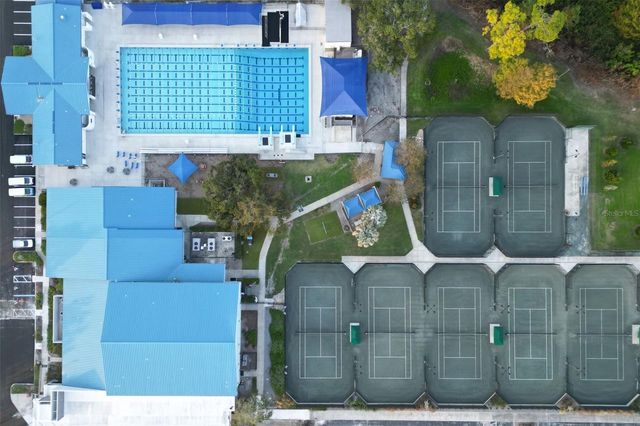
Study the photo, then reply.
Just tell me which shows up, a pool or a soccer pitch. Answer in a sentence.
I can see a pool in this picture.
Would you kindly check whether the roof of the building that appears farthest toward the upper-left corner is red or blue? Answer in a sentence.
From above, the roof of the building that appears farthest toward the upper-left corner appears blue.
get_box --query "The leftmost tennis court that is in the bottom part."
[286,265,355,404]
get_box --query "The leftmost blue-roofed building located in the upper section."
[1,0,94,166]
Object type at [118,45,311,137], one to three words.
swimming pool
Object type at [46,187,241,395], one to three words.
building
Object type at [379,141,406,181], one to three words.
building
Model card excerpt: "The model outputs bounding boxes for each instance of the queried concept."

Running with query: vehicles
[14,239,35,248]
[8,187,34,197]
[9,154,32,164]
[8,176,33,186]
